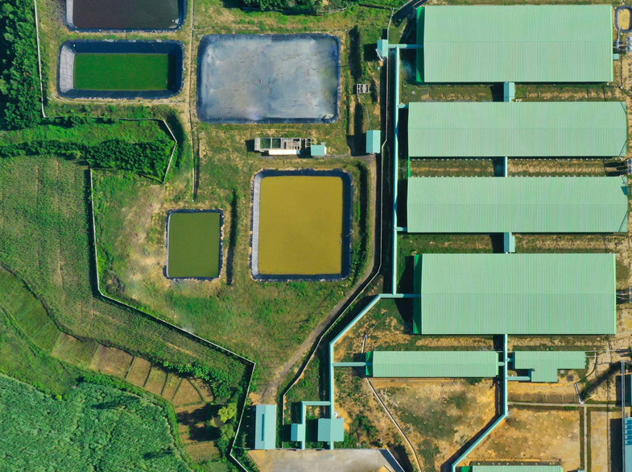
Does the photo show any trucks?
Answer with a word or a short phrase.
No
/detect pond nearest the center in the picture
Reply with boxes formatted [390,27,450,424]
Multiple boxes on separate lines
[249,168,354,284]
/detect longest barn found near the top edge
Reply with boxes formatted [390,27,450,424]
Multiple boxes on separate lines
[418,5,616,83]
